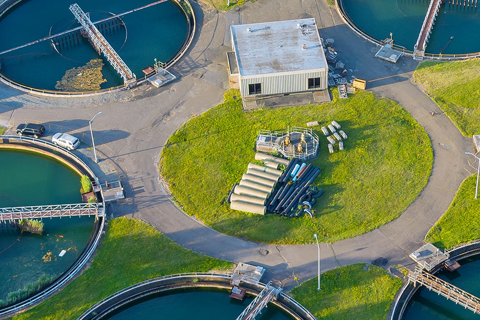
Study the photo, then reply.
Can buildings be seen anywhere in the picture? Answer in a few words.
Yes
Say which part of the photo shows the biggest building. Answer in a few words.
top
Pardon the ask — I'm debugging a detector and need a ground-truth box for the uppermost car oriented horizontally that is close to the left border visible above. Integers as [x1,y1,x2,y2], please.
[15,121,47,136]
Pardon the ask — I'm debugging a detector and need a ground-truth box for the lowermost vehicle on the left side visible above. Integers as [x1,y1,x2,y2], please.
[50,134,81,151]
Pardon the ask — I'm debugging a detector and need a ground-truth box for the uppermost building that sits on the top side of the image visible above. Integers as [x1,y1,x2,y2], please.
[225,18,329,96]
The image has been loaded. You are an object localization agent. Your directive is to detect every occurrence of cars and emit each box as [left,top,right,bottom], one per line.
[15,121,47,136]
[50,134,81,151]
